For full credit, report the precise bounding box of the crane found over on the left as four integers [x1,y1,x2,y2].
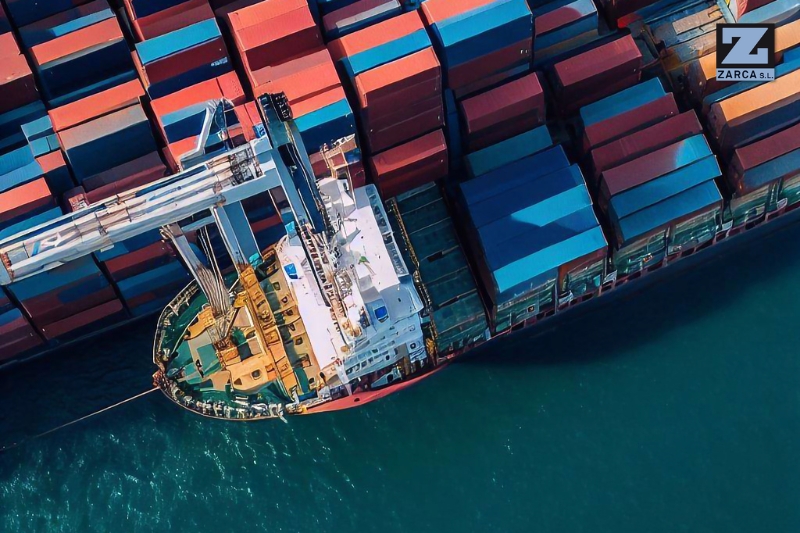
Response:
[0,88,366,352]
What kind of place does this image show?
port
